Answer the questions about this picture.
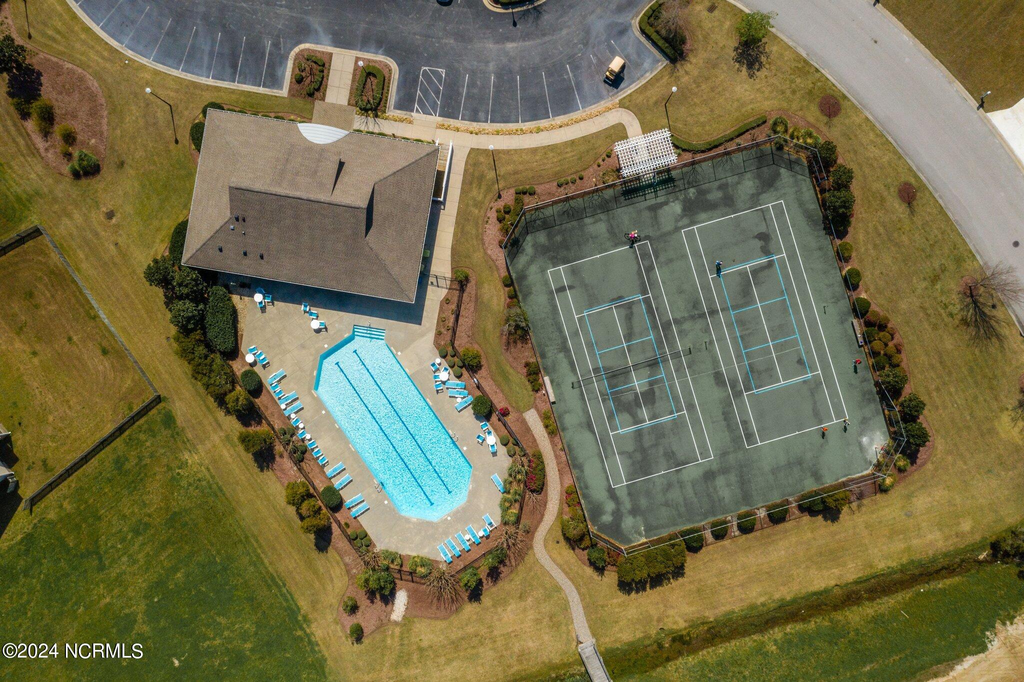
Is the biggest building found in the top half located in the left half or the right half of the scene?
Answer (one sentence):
You can find the biggest building found in the top half on the left side of the picture.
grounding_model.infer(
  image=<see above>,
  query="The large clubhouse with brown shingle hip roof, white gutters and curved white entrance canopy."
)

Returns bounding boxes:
[181,108,441,304]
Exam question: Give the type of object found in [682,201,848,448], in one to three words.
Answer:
tennis court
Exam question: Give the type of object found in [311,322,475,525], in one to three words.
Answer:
swimming pool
